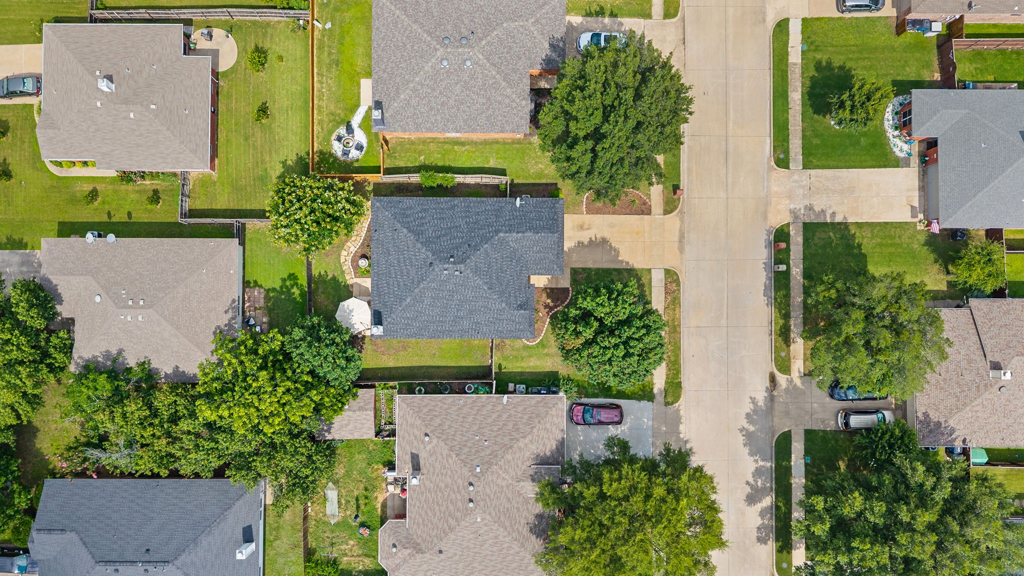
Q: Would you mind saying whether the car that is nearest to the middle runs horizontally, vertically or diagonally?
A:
horizontally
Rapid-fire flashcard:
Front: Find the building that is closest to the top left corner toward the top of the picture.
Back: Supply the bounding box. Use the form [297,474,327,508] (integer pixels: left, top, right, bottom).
[35,23,223,172]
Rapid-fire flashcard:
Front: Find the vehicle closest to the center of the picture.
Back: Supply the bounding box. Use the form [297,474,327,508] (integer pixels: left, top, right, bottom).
[569,403,624,429]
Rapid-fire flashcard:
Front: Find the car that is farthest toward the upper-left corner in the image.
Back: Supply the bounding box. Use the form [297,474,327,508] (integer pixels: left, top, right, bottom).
[0,73,41,99]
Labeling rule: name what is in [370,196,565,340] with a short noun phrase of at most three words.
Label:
house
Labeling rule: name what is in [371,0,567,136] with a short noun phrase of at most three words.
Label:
house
